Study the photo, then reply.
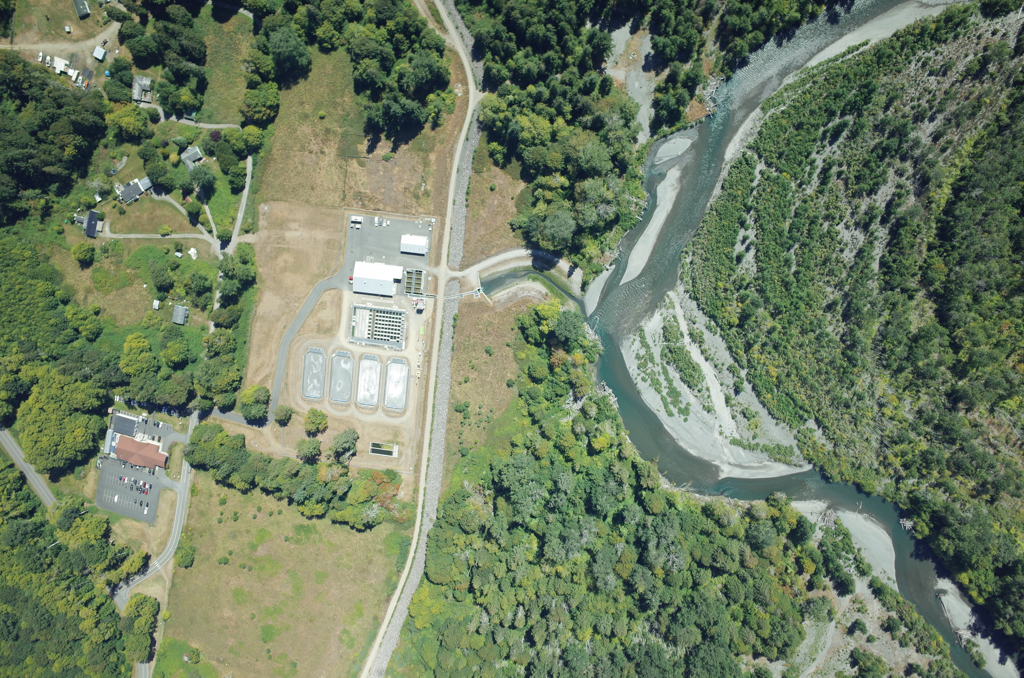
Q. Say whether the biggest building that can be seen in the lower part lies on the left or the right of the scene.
left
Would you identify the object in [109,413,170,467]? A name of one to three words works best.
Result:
building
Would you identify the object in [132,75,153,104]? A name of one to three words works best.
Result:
house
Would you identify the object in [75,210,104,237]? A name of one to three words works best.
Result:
house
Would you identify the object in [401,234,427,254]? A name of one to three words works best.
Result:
shed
